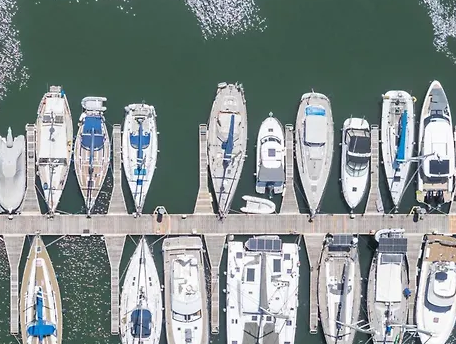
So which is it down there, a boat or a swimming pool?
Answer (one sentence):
The one in the frame is a boat.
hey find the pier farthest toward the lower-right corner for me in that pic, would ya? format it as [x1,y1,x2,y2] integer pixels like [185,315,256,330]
[403,234,425,336]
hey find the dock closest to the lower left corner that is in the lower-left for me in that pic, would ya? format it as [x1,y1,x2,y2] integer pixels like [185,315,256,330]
[3,234,26,336]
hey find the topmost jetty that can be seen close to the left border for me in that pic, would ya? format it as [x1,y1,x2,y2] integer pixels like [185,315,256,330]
[21,124,40,214]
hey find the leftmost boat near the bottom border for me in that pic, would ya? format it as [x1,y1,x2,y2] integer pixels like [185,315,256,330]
[15,232,66,344]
